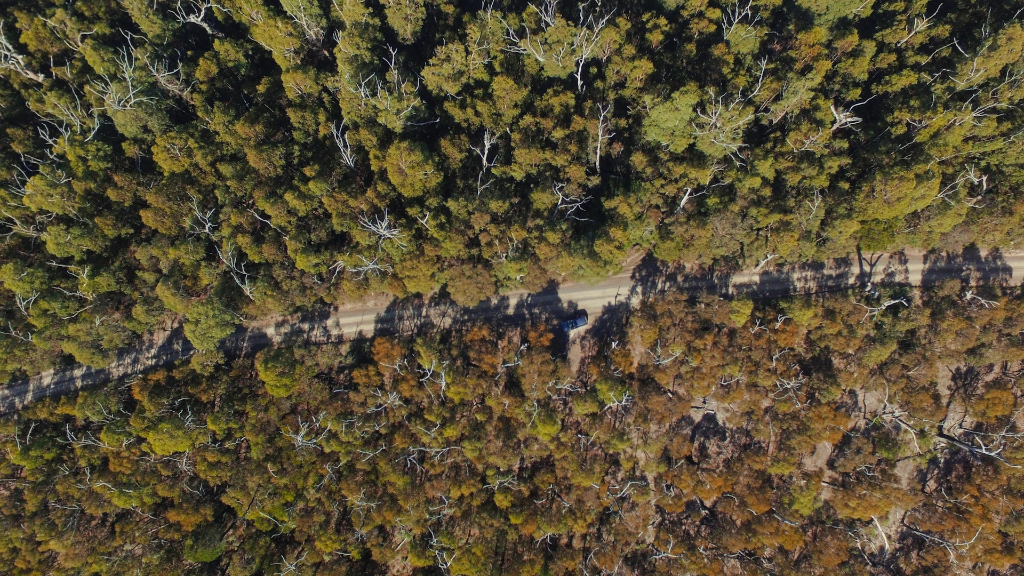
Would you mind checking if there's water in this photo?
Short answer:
No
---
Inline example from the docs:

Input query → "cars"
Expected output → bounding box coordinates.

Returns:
[559,313,589,331]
